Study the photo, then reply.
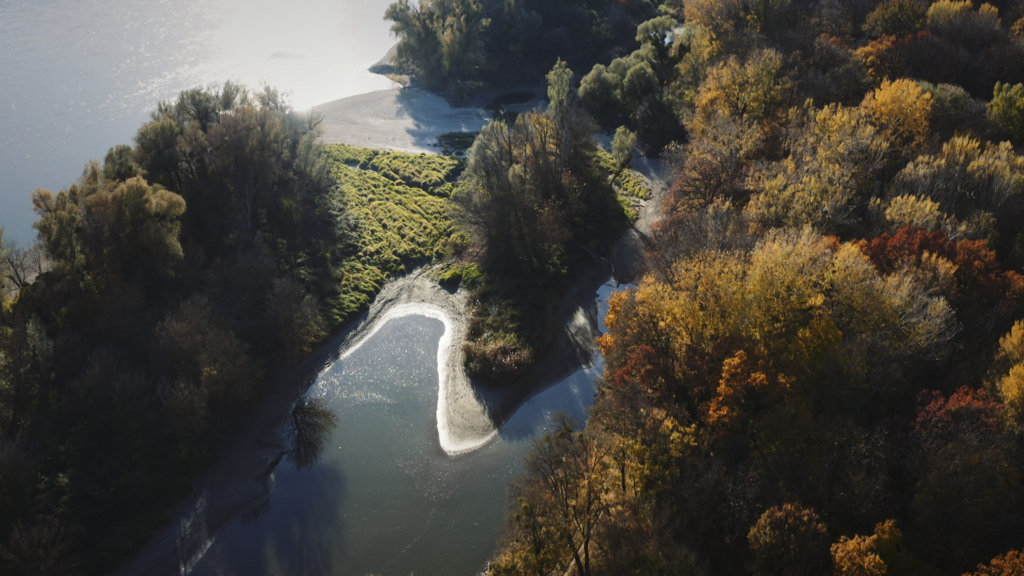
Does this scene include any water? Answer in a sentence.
Yes, there is water in the image.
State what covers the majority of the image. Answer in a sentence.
The largest share of the image is taken up by trees.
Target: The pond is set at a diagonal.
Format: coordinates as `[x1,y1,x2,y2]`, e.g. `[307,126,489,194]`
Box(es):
[183,278,629,576]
